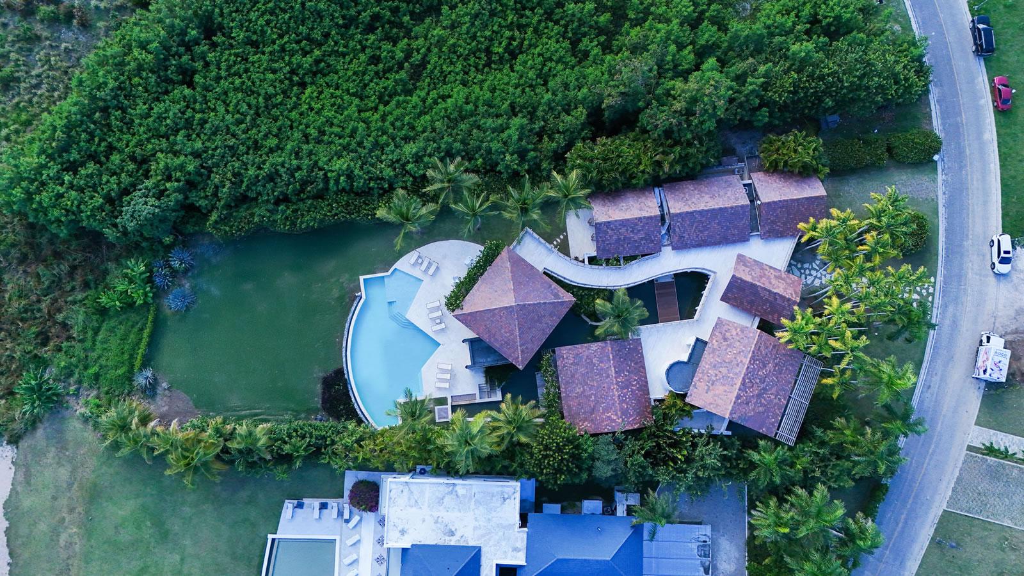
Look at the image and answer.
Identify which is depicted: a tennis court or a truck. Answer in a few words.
truck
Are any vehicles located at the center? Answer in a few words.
No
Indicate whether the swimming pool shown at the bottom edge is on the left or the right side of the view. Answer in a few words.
left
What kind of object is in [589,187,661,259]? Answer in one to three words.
house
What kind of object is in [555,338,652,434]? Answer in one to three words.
house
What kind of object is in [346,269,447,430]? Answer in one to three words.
swimming pool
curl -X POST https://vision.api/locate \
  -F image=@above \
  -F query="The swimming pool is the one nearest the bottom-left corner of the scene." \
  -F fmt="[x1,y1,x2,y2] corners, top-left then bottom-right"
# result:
[263,533,340,576]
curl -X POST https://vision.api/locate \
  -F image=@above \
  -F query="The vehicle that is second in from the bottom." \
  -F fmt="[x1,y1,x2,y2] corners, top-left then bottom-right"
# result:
[989,233,1014,273]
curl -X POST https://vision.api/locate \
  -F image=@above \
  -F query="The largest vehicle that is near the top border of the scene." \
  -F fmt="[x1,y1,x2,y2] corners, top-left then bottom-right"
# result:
[971,14,998,56]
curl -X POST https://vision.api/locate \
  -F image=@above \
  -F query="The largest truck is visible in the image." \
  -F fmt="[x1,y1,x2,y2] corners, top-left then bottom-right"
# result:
[968,331,1011,388]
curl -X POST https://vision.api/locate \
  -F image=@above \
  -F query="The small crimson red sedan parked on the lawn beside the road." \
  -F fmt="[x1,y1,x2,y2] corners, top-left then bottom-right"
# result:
[992,75,1016,111]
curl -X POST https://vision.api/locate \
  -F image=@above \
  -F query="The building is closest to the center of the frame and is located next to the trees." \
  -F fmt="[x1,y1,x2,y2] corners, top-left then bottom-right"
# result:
[452,246,576,370]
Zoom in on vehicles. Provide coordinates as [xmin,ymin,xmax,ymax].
[971,14,998,56]
[968,331,1011,388]
[989,233,1014,273]
[992,75,1016,111]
